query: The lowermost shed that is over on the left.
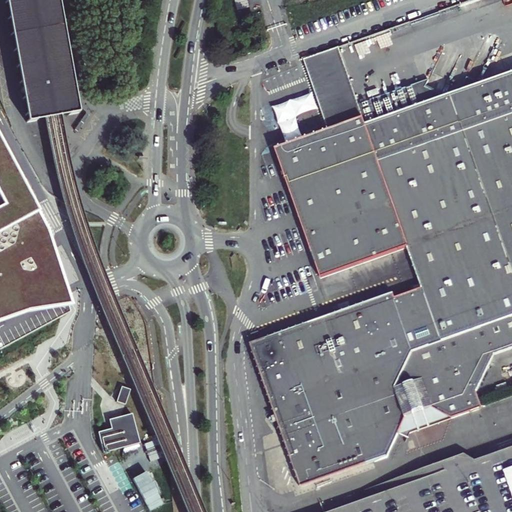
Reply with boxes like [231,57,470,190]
[134,470,164,510]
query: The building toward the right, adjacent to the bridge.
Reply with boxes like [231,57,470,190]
[248,70,512,489]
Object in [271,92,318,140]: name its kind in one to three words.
tent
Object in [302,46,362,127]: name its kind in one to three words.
building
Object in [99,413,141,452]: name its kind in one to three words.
house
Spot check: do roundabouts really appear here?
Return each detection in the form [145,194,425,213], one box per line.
[134,207,200,274]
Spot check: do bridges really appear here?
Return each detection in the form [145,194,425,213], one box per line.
[49,114,204,512]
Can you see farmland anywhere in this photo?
No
